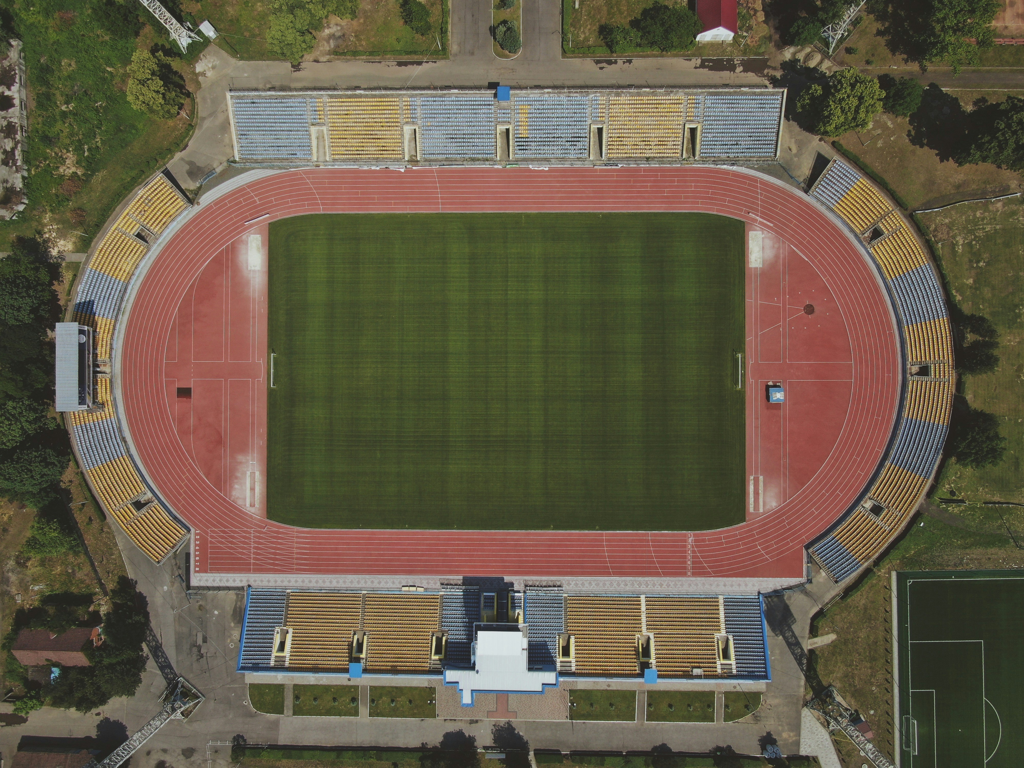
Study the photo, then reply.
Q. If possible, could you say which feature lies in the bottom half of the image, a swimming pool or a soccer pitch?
soccer pitch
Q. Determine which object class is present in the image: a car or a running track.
running track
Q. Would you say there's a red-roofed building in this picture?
Yes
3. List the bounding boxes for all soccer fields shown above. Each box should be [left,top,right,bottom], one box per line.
[897,568,1024,768]
[266,213,746,531]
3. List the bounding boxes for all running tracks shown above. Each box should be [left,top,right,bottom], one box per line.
[121,166,899,580]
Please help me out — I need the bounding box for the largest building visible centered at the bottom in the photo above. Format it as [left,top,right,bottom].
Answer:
[442,621,560,707]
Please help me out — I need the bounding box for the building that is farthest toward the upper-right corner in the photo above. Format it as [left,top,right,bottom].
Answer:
[694,0,736,39]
